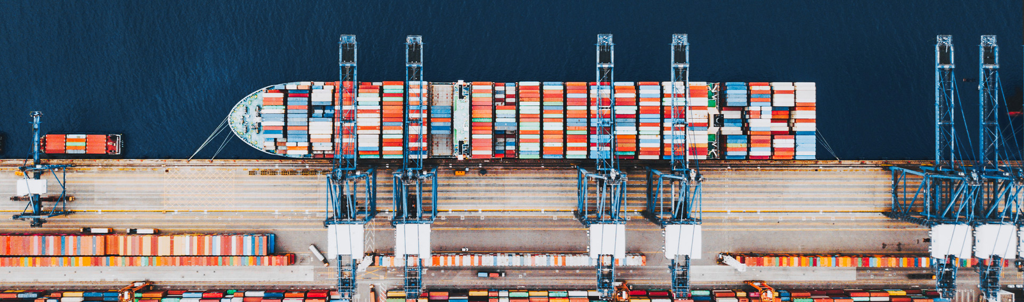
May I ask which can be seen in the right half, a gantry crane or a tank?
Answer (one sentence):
The one visible in the right half is a gantry crane.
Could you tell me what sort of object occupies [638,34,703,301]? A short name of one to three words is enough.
container crane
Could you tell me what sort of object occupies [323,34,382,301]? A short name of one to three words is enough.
container crane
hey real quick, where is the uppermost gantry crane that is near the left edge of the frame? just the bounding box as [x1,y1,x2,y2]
[17,110,78,229]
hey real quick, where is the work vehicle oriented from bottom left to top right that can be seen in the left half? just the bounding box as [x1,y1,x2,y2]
[358,251,377,275]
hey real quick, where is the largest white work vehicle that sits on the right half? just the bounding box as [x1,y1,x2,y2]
[716,255,748,277]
